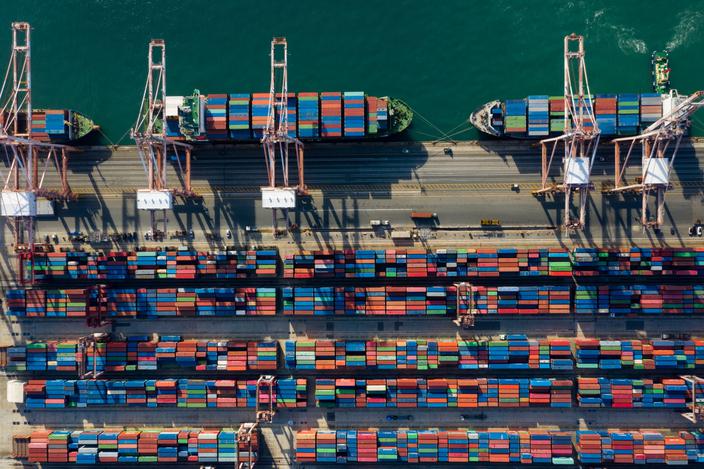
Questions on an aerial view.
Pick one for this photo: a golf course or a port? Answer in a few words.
port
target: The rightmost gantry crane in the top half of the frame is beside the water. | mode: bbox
[597,86,704,229]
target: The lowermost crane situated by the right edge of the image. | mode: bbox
[668,367,704,424]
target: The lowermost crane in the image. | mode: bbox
[236,412,263,469]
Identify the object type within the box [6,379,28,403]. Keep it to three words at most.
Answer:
shed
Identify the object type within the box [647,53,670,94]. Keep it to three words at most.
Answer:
boat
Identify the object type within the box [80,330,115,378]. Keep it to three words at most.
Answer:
crane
